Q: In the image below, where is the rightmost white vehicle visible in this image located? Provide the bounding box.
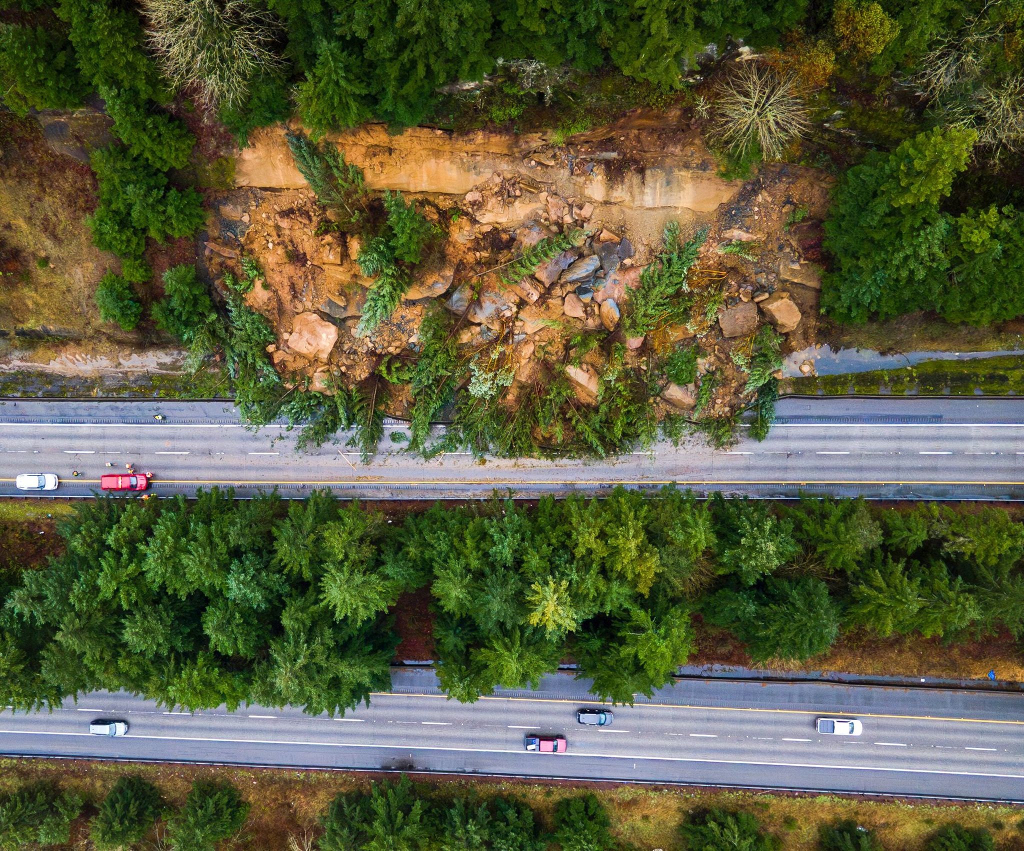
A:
[815,716,861,737]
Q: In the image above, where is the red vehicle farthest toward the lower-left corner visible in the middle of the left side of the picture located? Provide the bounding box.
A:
[99,473,151,492]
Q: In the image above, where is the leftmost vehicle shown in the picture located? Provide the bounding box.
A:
[16,472,62,491]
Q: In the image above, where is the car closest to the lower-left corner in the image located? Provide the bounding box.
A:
[91,718,130,737]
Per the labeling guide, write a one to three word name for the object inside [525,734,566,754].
vehicle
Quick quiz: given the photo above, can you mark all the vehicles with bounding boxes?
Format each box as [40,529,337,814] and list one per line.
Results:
[91,718,130,737]
[99,473,151,492]
[576,708,612,727]
[815,716,861,737]
[525,734,566,754]
[16,472,62,491]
